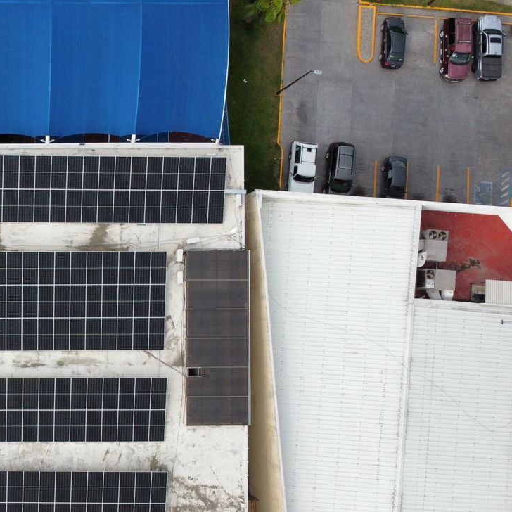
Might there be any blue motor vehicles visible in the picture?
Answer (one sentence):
No, no blue motor vehicle can be seen from above.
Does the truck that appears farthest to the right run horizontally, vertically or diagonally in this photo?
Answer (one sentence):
What the image shows is the truck that appears farthest to the right lying vertically.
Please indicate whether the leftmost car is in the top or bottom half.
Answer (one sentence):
It is in the top half that the leftmost car appears.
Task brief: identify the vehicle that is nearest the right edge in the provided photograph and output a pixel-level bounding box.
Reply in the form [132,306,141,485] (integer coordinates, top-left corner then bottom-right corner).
[471,14,507,82]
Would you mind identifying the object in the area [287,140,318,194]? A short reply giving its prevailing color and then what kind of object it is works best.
white car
